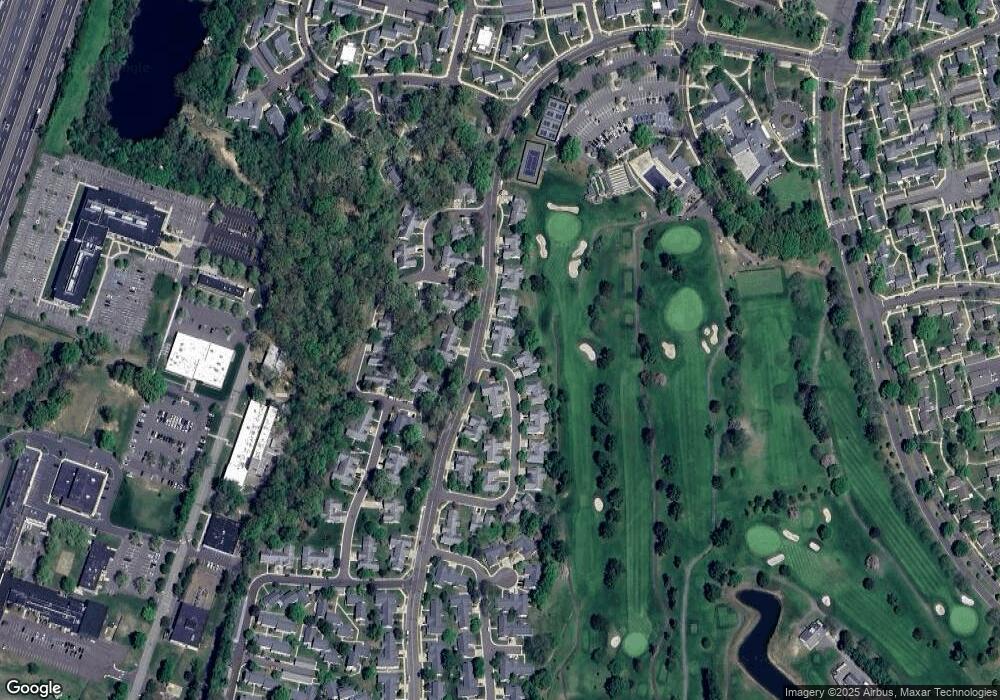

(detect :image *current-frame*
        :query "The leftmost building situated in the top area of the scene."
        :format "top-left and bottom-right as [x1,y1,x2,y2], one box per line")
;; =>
[54,187,169,309]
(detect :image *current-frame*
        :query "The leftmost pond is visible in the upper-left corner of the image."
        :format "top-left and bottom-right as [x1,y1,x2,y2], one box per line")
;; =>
[108,0,208,139]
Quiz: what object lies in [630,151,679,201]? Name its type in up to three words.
swimming pool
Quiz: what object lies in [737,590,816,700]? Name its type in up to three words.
pond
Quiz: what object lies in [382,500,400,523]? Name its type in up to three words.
house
